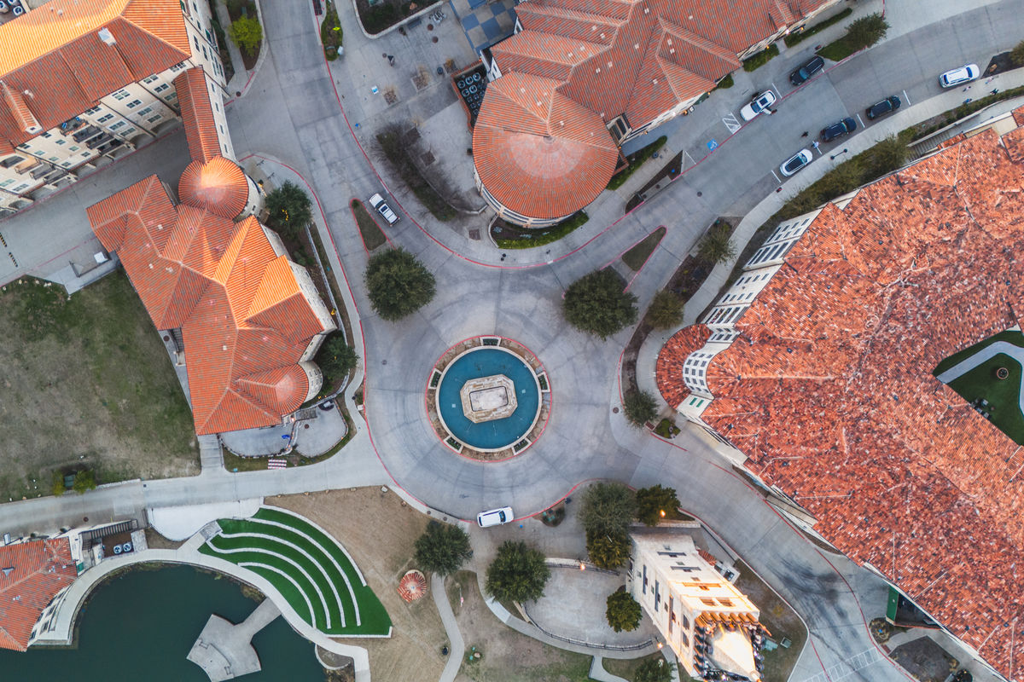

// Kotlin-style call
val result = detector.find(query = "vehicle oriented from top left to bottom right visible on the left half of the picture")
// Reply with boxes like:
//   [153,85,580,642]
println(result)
[367,191,399,225]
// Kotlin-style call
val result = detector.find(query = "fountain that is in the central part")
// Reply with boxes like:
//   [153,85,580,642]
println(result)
[424,334,552,461]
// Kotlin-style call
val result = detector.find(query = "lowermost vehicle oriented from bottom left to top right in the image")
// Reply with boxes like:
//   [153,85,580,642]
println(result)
[781,147,815,175]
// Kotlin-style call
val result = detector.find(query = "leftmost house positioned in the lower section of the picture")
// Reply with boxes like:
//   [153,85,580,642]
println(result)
[0,529,100,653]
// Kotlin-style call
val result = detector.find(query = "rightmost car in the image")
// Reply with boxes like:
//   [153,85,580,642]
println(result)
[941,62,982,84]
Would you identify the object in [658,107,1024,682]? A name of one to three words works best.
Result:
building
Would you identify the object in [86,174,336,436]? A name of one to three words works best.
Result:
house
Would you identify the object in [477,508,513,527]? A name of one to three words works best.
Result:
car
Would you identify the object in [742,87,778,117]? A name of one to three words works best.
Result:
car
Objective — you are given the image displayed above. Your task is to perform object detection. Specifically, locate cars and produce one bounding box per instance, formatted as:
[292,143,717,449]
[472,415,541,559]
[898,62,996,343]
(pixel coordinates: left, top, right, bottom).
[866,92,904,117]
[742,87,778,117]
[821,114,859,140]
[477,508,513,527]
[367,191,399,225]
[791,52,827,82]
[941,62,982,84]
[781,147,815,175]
